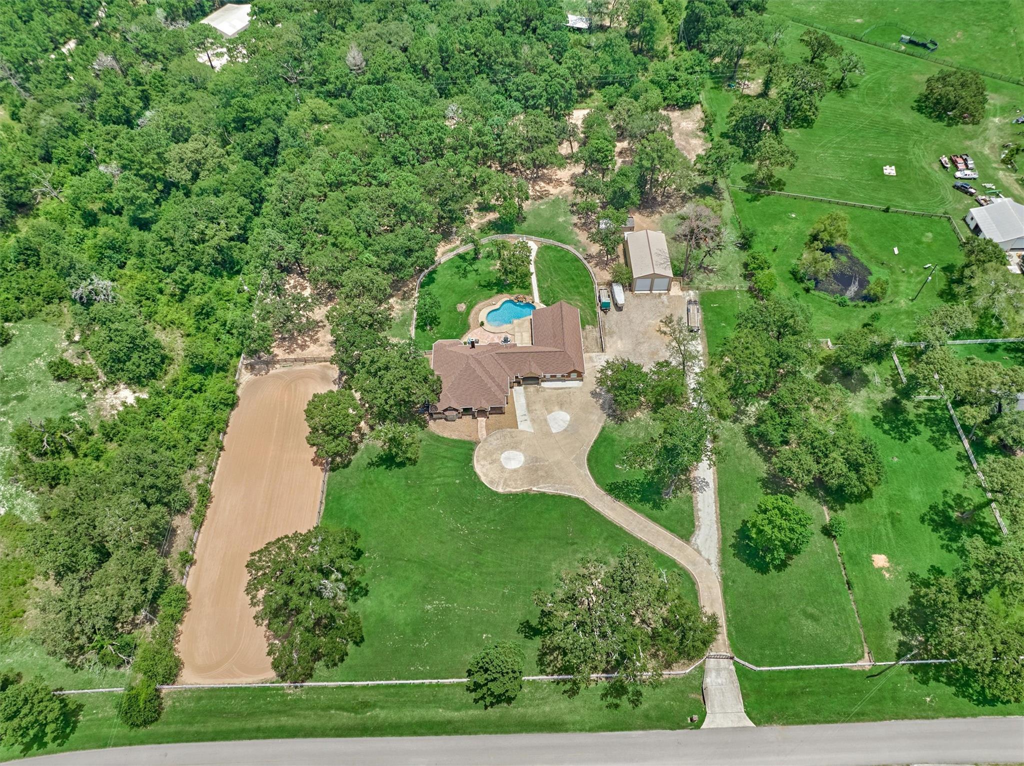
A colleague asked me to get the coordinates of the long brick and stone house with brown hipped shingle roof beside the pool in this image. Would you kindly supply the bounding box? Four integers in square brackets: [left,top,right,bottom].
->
[427,302,585,422]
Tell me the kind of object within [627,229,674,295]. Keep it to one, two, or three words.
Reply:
building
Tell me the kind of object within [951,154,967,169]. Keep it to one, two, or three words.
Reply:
vehicle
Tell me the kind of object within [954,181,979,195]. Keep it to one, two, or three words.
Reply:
vehicle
